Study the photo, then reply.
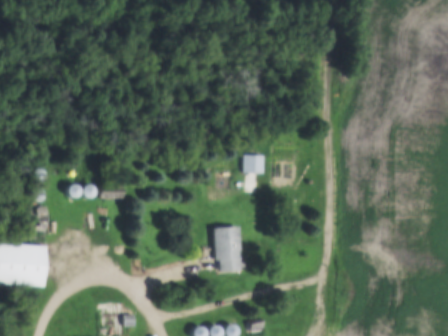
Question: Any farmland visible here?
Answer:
Yes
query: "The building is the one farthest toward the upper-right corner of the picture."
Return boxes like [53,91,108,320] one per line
[244,154,264,175]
